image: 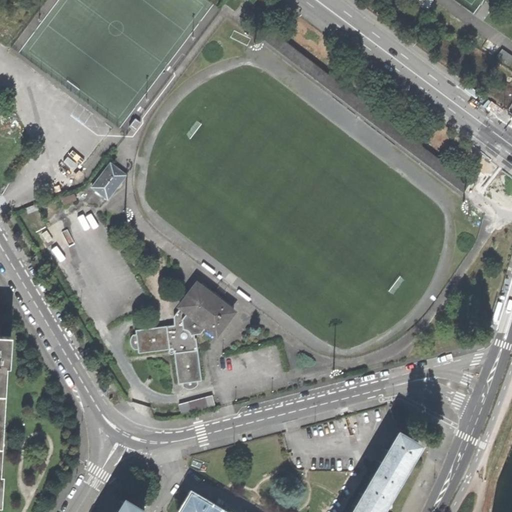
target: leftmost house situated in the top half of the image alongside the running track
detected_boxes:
[91,163,126,201]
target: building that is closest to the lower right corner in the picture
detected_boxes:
[341,430,426,512]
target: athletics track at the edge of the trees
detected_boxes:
[134,48,456,356]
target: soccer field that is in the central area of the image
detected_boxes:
[145,66,446,348]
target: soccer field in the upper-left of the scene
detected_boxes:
[19,0,215,128]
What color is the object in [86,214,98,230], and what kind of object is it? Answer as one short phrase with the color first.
white vehicle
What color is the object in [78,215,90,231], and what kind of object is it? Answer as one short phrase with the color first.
white vehicle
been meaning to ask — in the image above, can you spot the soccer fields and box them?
[19,0,215,128]
[145,66,446,348]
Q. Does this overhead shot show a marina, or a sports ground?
sports ground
